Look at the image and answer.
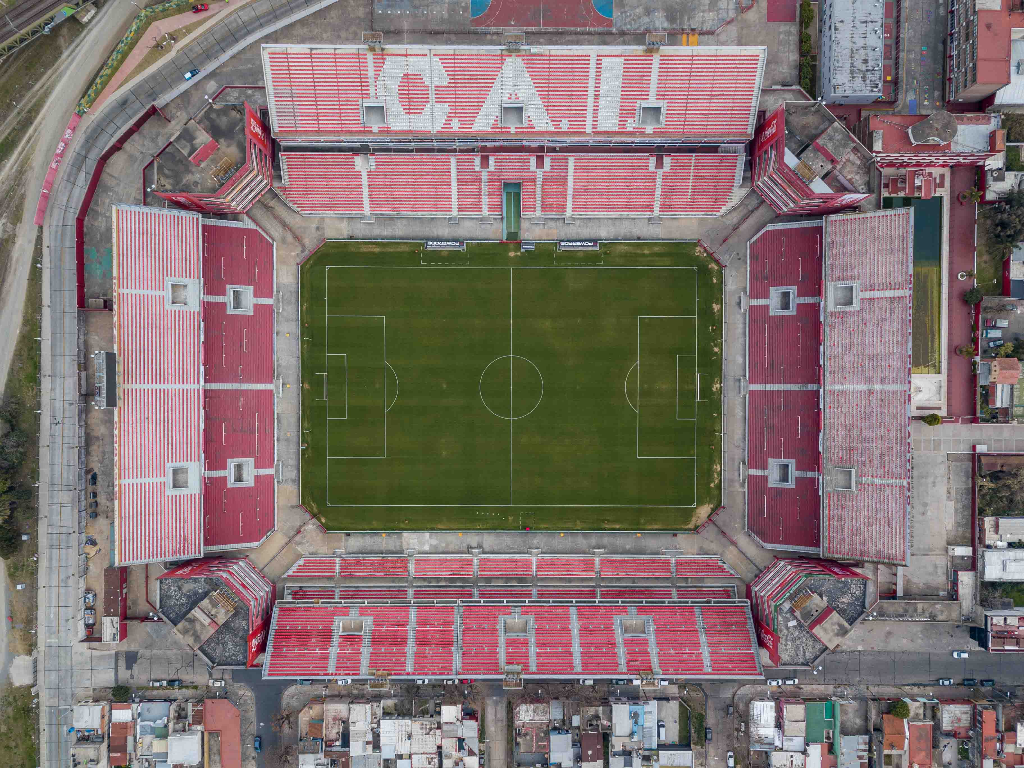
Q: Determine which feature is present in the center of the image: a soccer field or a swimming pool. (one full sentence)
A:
Visible in the center of the image is a soccer field.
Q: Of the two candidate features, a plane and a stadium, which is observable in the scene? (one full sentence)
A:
I can see a stadium in this picture.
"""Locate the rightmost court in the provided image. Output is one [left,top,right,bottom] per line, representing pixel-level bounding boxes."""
[767,0,797,22]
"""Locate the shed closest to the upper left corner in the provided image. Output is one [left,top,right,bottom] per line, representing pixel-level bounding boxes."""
[74,5,102,29]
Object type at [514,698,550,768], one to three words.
house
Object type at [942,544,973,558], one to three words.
shed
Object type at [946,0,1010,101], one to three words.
building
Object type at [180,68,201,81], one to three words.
vehicle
